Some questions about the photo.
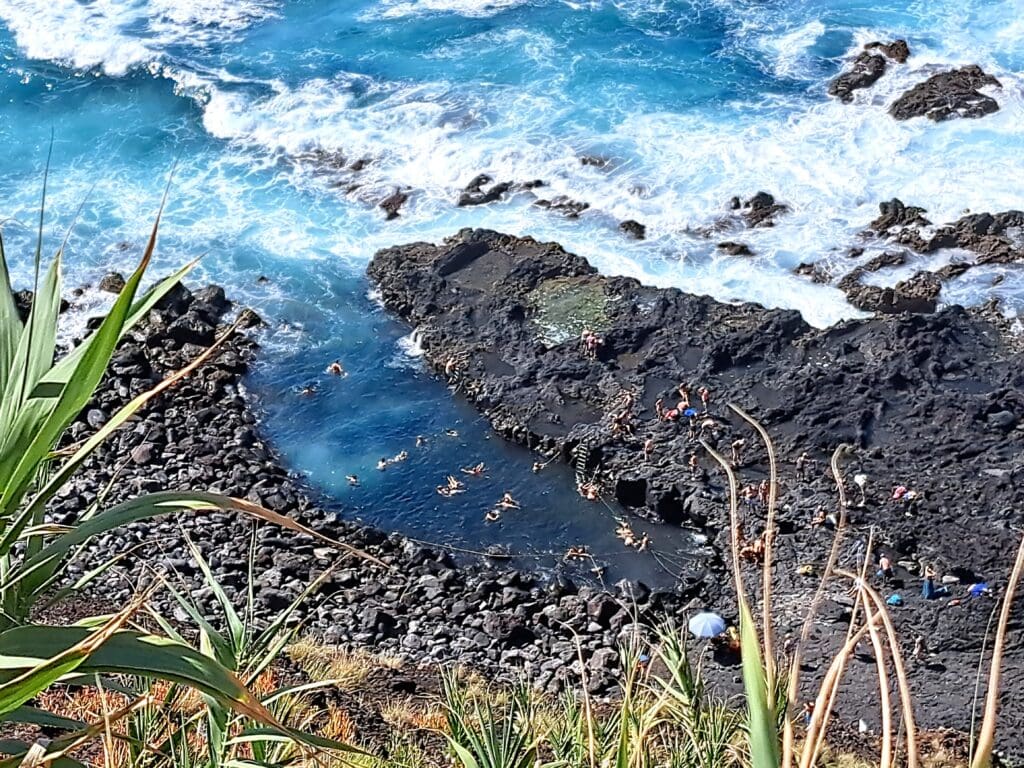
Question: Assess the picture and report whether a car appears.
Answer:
No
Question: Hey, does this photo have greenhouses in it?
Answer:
No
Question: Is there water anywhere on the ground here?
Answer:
Yes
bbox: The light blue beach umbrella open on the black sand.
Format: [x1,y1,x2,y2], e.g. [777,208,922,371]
[688,611,731,648]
